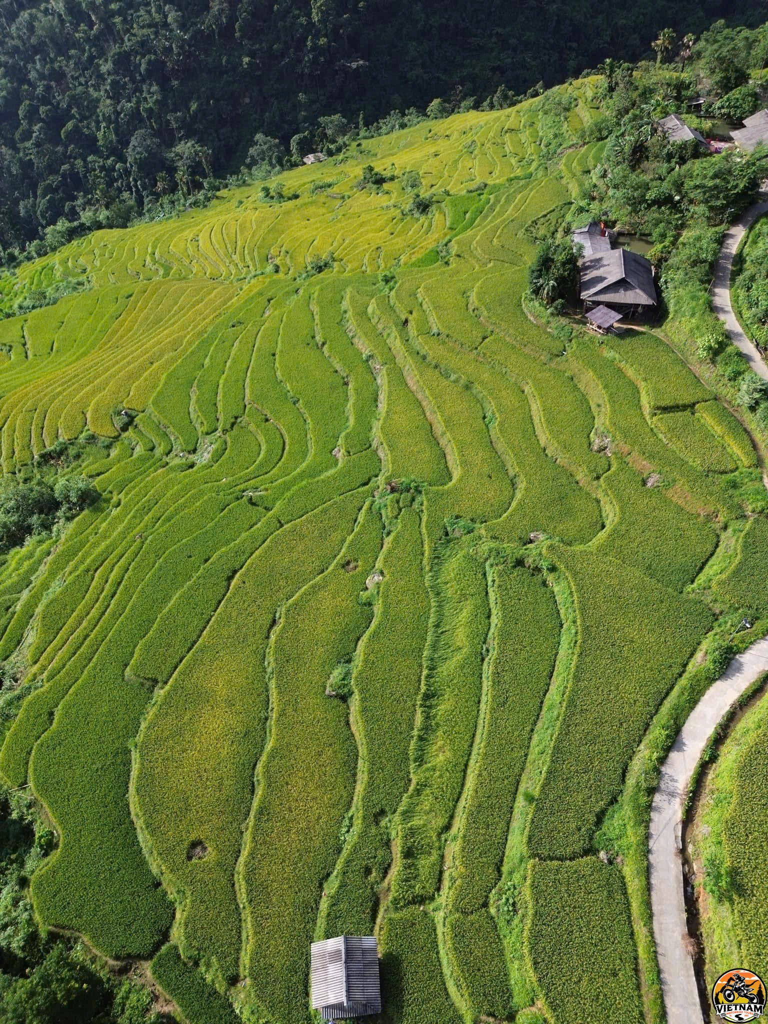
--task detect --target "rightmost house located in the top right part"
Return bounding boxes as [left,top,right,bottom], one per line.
[731,112,768,157]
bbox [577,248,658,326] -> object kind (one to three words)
house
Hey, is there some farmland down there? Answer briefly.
Yes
